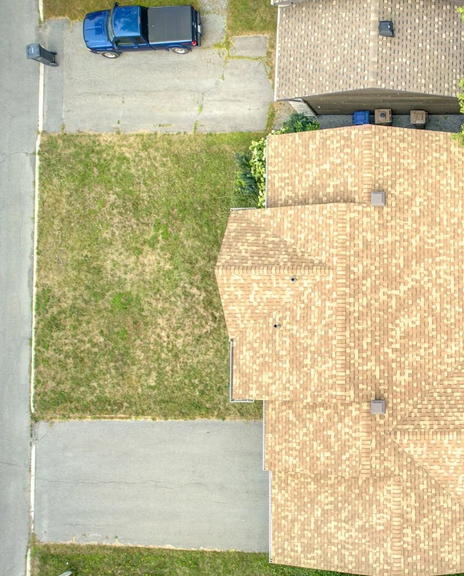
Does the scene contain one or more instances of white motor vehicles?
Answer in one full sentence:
No, the photo shows no white motor vehicle.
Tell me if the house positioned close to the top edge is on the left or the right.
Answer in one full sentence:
The house positioned close to the top edge appears in the right half of the scene.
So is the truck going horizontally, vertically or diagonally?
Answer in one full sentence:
In this picture, the truck lies horizontally.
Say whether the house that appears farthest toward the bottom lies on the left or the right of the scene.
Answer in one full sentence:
The house that appears farthest toward the bottom sits on the right side.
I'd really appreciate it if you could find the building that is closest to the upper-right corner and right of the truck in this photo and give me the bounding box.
[268,0,464,114]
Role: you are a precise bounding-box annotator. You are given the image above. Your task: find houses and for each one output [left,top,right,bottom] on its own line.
[216,124,464,576]
[268,0,464,114]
